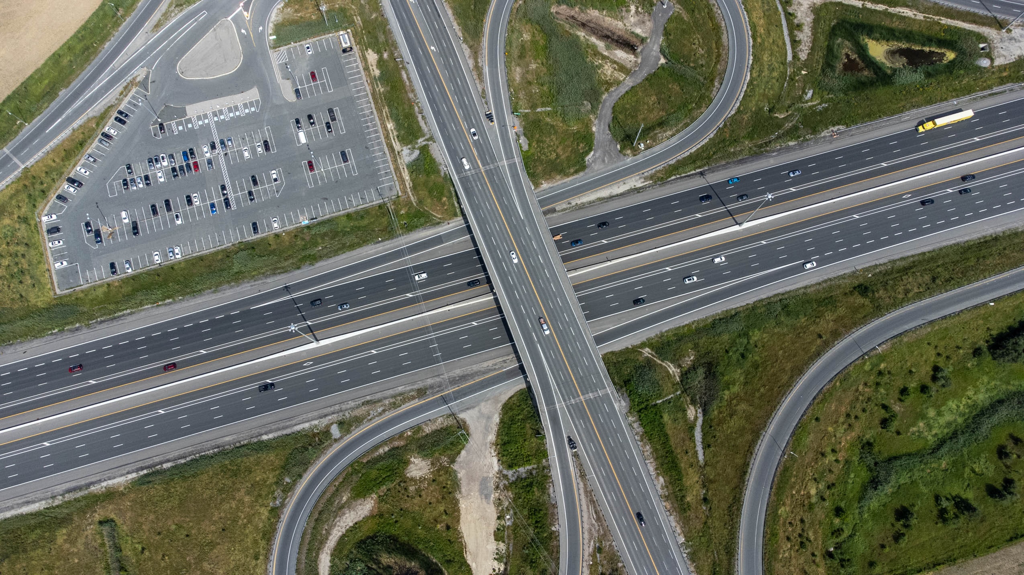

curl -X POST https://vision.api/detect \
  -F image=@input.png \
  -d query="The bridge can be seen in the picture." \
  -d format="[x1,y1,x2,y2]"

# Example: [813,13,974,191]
[449,160,618,411]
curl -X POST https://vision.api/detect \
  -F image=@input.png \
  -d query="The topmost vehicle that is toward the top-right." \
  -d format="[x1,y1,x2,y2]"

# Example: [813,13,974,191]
[918,108,976,130]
